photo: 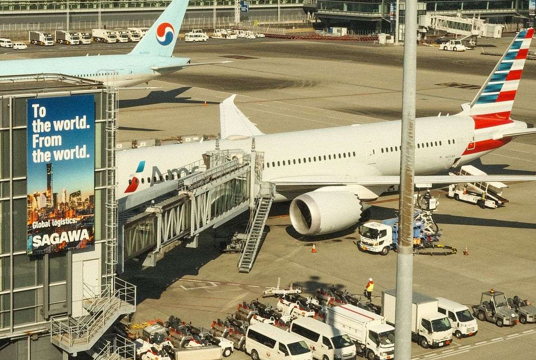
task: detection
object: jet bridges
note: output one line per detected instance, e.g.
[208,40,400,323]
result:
[415,11,497,48]
[105,133,274,278]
